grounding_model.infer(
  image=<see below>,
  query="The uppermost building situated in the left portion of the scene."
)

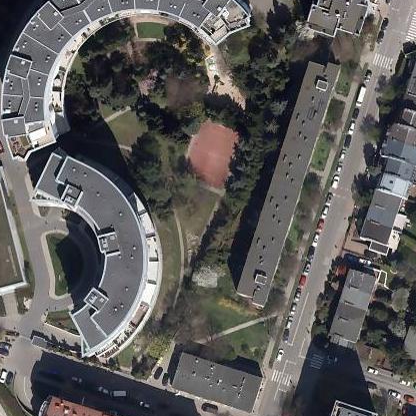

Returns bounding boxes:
[1,0,259,162]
